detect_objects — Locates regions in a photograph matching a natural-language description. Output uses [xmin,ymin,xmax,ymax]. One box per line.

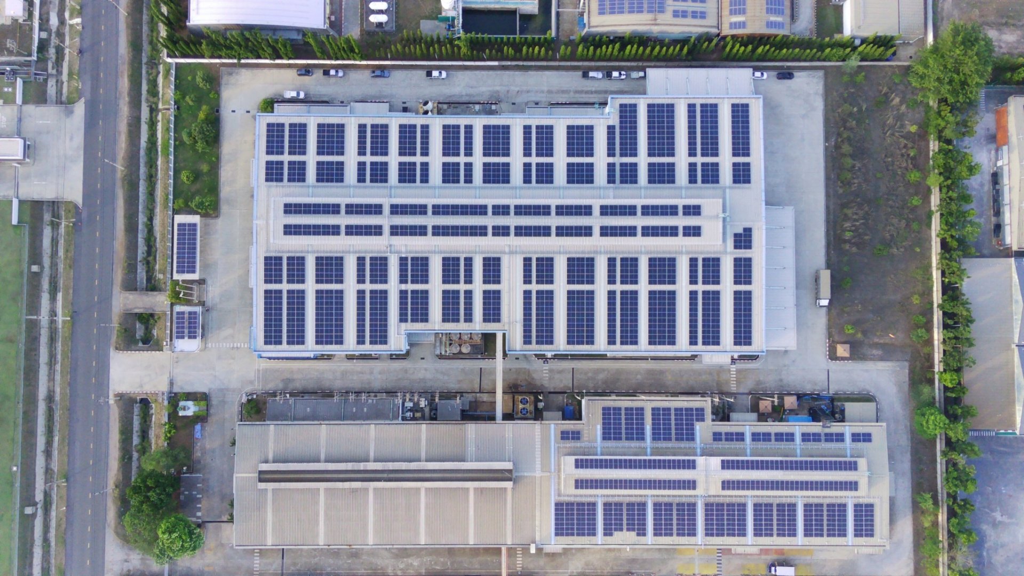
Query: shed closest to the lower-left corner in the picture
[179,473,205,522]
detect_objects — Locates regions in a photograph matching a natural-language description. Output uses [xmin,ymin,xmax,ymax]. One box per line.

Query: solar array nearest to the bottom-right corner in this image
[854,504,874,537]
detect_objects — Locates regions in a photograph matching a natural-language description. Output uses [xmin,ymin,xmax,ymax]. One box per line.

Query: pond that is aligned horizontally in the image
[455,0,557,41]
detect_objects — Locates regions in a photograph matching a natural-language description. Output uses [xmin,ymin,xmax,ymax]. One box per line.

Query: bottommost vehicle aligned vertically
[816,269,831,307]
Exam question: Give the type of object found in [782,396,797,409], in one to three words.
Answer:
gazebo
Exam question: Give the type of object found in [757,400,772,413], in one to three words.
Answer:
gazebo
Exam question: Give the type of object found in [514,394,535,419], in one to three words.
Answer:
cooling tower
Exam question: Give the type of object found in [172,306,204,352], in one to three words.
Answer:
building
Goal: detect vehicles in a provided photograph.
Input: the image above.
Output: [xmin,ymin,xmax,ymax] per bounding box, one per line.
[630,70,646,79]
[323,68,343,77]
[284,90,304,98]
[372,69,389,78]
[753,71,766,80]
[816,269,831,307]
[583,70,602,79]
[776,71,794,80]
[297,67,312,76]
[989,174,1005,214]
[606,70,626,79]
[767,562,796,576]
[427,71,446,79]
